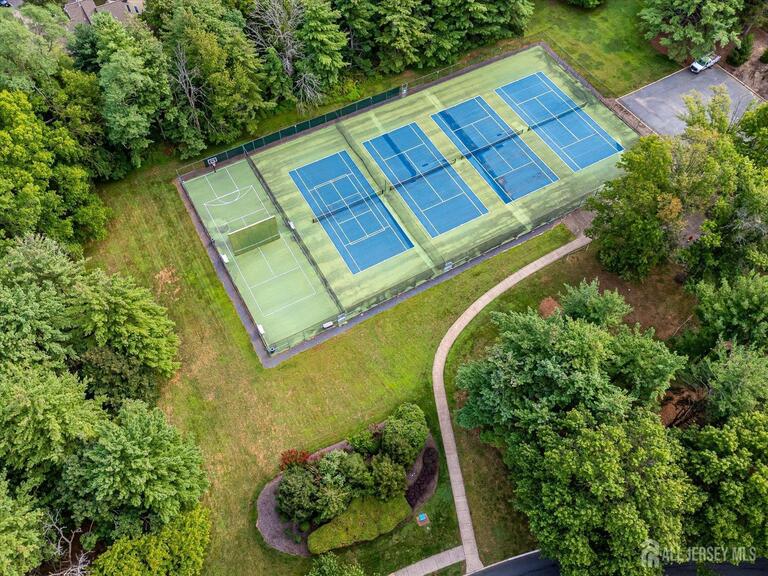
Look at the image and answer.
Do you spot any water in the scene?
No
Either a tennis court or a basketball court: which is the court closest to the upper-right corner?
tennis court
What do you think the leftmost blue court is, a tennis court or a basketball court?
tennis court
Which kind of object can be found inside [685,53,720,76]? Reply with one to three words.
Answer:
truck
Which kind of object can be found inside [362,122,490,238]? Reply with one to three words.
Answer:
tennis court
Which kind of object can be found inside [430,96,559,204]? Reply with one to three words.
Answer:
tennis court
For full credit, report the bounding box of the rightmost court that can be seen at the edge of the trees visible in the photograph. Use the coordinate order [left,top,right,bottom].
[495,71,624,172]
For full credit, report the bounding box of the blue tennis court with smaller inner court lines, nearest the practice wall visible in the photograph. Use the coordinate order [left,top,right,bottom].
[288,149,415,275]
